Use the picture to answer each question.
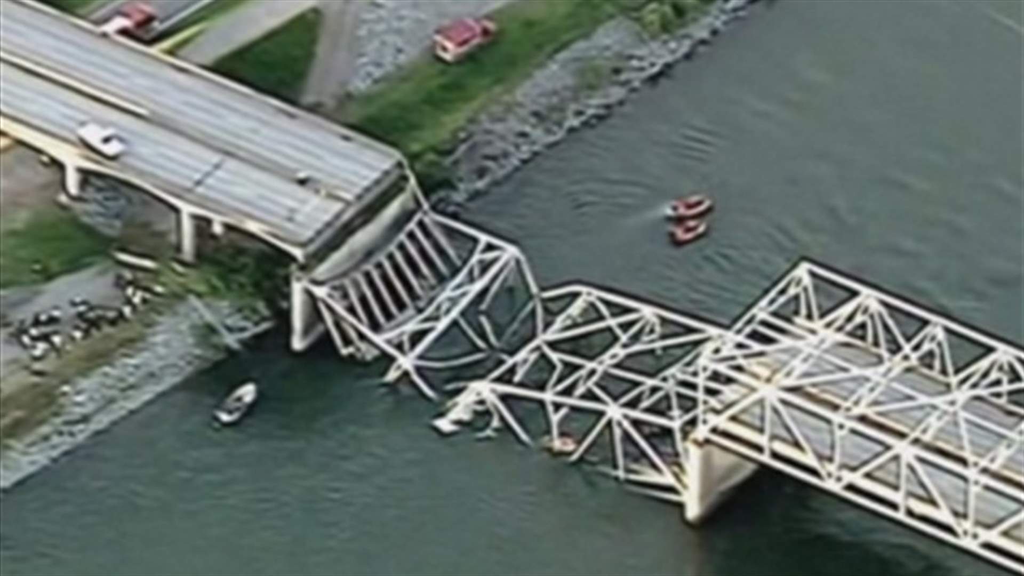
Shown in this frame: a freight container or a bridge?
bridge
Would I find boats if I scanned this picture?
Yes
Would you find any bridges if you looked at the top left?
Yes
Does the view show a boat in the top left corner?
No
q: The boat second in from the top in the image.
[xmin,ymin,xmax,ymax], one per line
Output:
[668,221,709,244]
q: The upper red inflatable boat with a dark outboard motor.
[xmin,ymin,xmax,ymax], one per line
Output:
[668,195,716,219]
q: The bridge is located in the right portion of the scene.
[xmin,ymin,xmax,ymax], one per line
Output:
[693,263,1024,566]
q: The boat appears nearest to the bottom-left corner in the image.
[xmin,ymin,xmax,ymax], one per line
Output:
[208,385,256,429]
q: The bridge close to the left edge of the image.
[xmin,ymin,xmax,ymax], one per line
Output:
[0,0,407,271]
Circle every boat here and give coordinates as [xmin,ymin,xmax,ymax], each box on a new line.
[668,221,709,244]
[208,385,256,429]
[668,195,716,219]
